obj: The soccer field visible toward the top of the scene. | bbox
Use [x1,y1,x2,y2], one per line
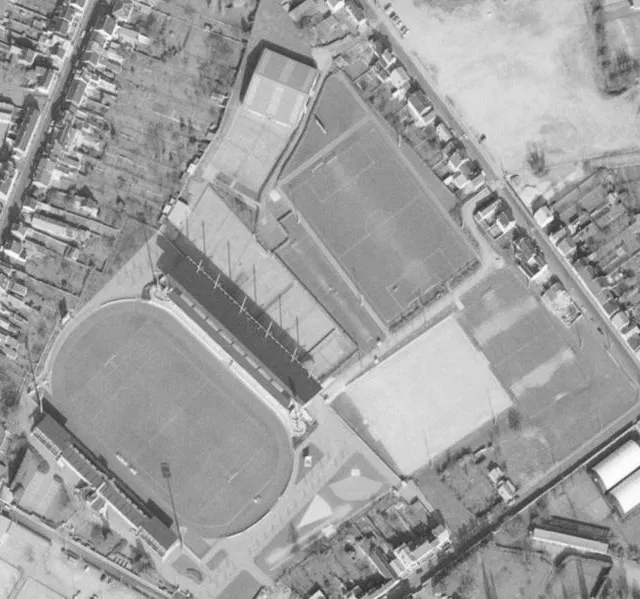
[288,126,474,326]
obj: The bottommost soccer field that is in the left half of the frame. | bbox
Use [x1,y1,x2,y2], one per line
[72,321,271,518]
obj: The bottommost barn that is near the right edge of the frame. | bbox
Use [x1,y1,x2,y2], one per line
[531,521,610,554]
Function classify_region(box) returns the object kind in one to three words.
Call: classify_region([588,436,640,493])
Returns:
shed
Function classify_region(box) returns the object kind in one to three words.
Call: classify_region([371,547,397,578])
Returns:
house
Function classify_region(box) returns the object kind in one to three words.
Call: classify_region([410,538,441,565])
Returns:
house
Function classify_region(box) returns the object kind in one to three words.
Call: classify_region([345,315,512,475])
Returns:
sports field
